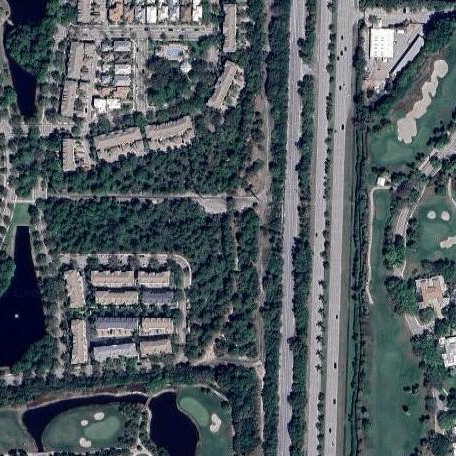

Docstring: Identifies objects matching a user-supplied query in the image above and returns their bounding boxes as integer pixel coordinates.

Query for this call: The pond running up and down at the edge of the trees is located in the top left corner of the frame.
[4,0,48,117]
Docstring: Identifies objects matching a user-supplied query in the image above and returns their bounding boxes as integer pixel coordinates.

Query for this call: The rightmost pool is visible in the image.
[157,43,188,60]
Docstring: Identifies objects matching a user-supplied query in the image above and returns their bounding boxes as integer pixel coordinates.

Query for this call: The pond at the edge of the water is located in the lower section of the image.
[0,225,46,366]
